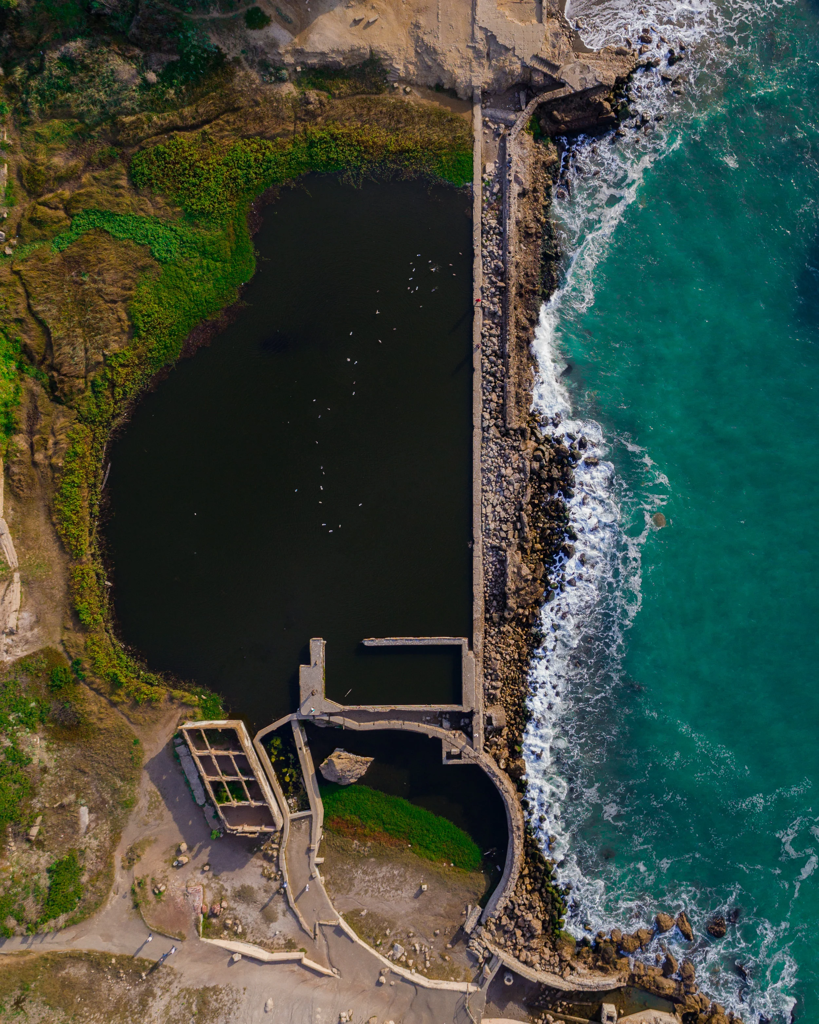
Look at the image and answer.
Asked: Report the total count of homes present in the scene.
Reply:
1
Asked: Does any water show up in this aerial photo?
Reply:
Yes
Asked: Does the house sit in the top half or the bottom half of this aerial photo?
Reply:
bottom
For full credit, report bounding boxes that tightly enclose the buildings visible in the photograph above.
[179,715,283,836]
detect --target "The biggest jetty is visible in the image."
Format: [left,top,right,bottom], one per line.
[300,637,343,715]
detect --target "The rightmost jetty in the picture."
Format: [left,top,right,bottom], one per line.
[462,636,475,711]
